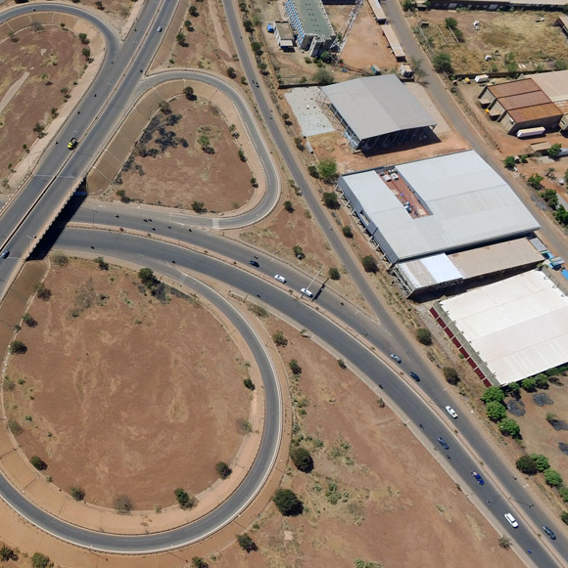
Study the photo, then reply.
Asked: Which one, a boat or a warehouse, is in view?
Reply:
warehouse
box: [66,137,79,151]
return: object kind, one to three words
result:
vehicle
